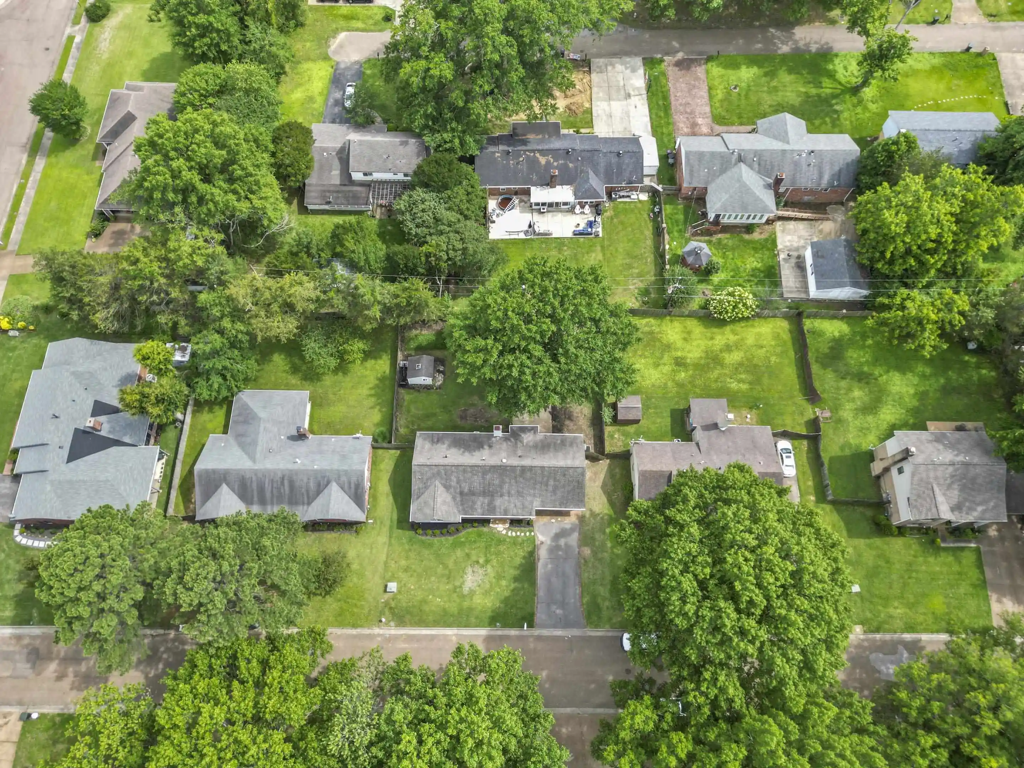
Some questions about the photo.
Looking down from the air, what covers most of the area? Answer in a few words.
trees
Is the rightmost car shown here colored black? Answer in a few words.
No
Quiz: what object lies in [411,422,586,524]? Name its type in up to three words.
house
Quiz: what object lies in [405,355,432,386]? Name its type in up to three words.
shed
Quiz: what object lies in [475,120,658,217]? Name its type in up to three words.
house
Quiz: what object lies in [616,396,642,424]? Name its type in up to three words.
shed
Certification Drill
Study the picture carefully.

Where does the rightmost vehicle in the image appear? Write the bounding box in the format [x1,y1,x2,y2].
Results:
[775,439,799,478]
